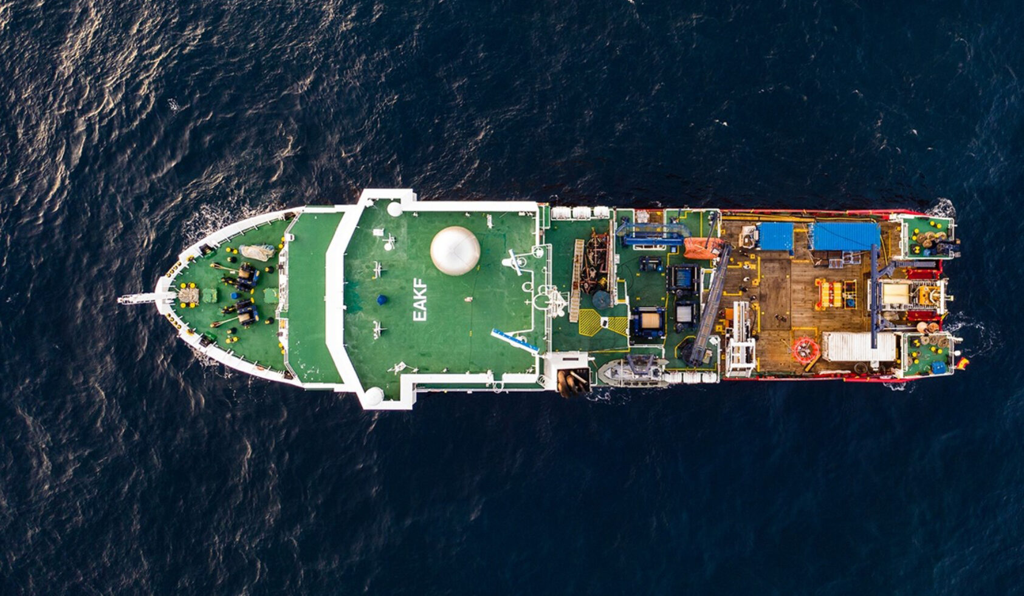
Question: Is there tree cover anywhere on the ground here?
No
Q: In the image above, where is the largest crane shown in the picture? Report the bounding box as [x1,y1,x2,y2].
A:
[674,240,736,371]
